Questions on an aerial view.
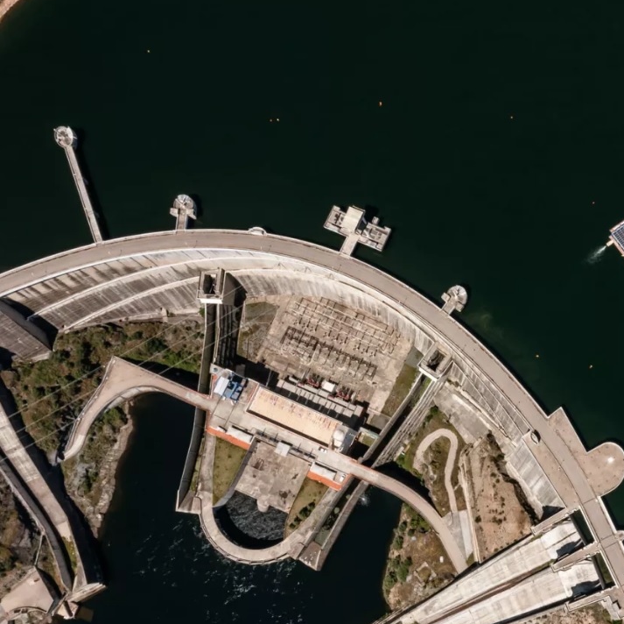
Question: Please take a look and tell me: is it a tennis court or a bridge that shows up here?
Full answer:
Looking from above, you can make out a bridge.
